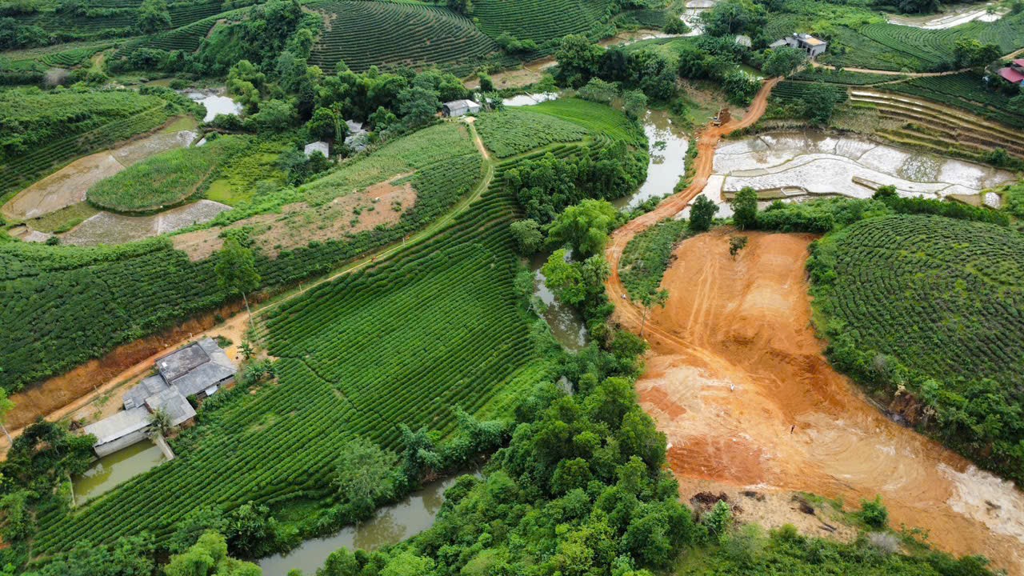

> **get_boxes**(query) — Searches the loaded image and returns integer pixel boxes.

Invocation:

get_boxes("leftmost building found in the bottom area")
[85,338,238,460]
